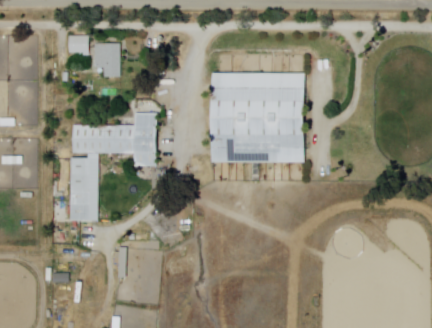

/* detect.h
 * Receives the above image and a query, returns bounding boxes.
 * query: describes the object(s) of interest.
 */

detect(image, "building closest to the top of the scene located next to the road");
[68,34,88,54]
